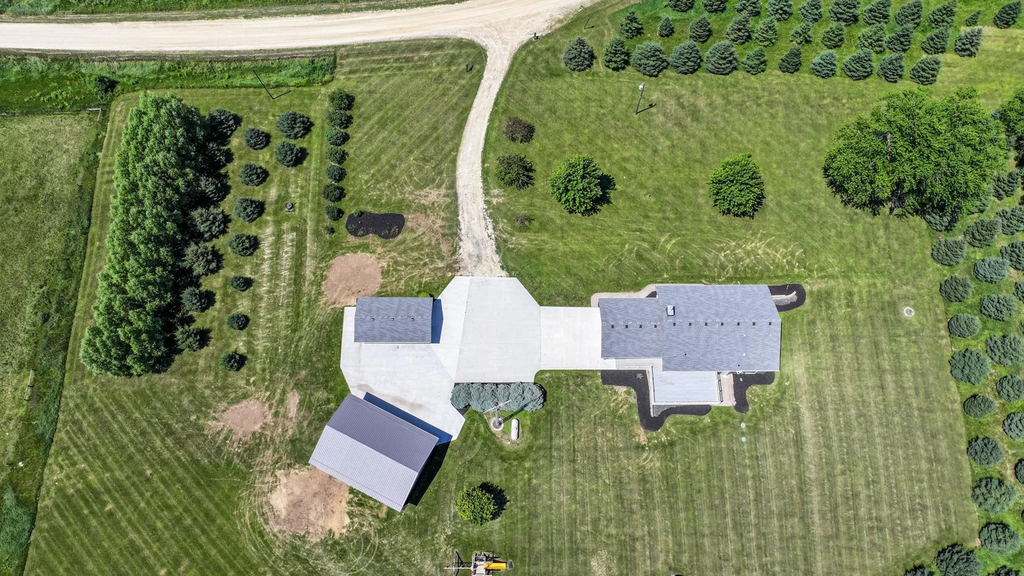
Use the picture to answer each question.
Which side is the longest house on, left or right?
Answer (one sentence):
It is on the right.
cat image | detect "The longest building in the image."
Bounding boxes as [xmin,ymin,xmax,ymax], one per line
[599,284,781,372]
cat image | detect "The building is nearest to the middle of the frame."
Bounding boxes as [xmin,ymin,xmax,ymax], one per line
[354,297,433,345]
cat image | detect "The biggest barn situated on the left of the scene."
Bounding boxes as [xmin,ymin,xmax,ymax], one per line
[310,392,439,512]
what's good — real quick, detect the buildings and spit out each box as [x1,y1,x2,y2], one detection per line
[310,392,439,512]
[599,284,781,372]
[354,297,433,345]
